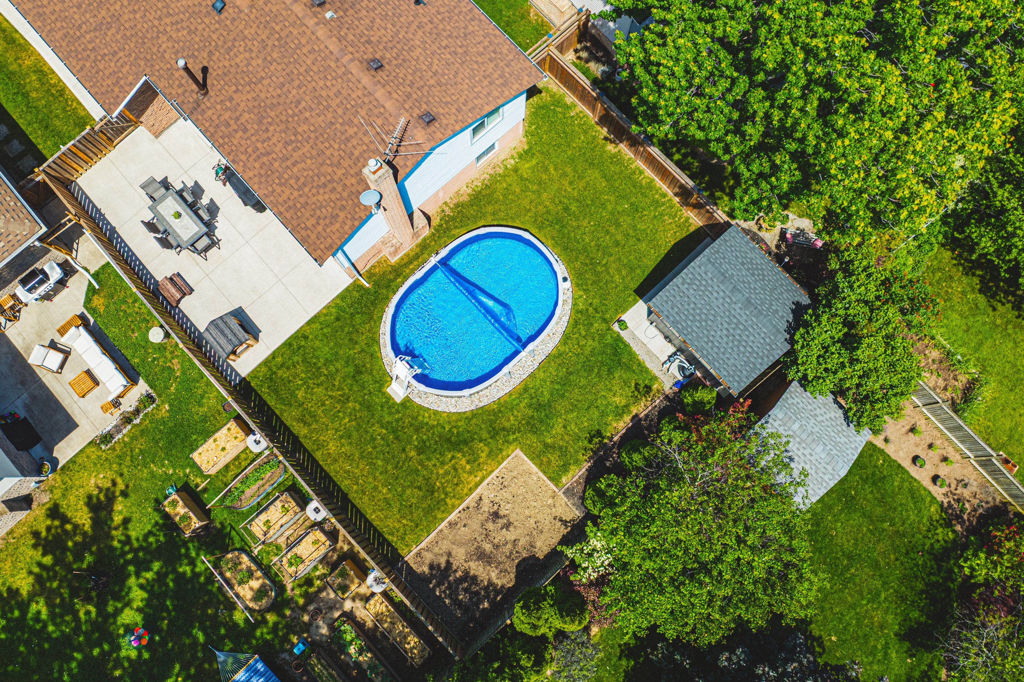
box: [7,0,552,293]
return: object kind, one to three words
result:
house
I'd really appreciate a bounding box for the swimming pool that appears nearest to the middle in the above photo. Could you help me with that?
[384,225,570,397]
